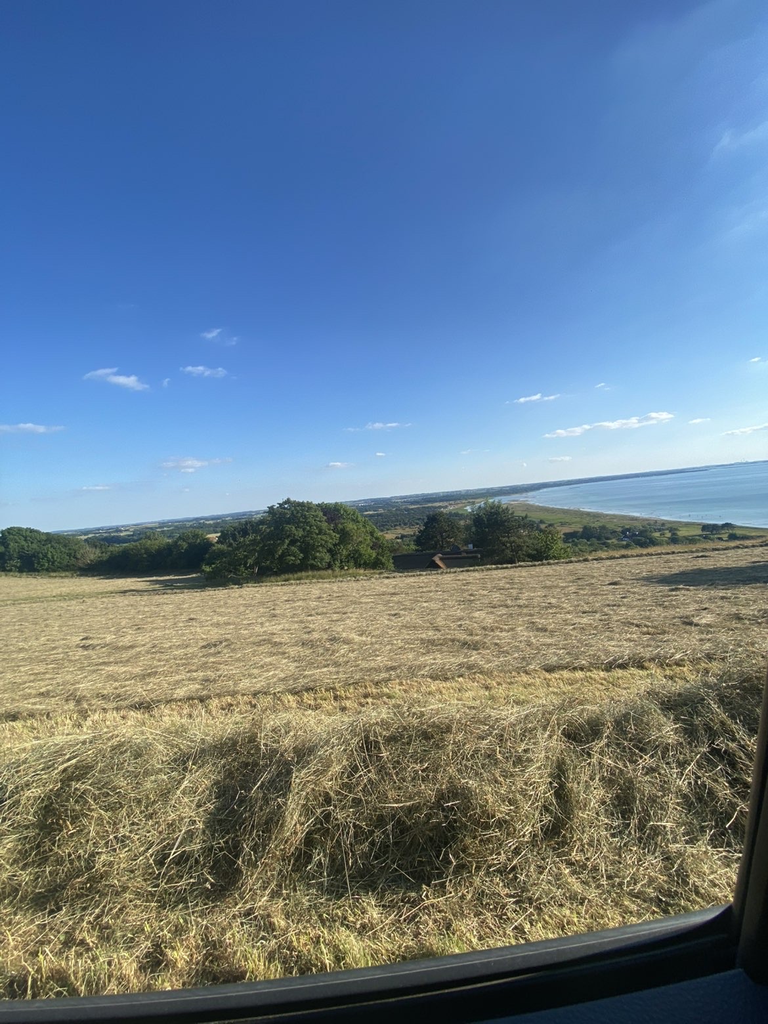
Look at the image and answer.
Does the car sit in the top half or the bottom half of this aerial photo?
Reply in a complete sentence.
You can find the car in the bottom half.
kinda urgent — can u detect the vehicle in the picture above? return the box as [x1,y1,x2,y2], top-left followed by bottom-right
[0,644,768,1024]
